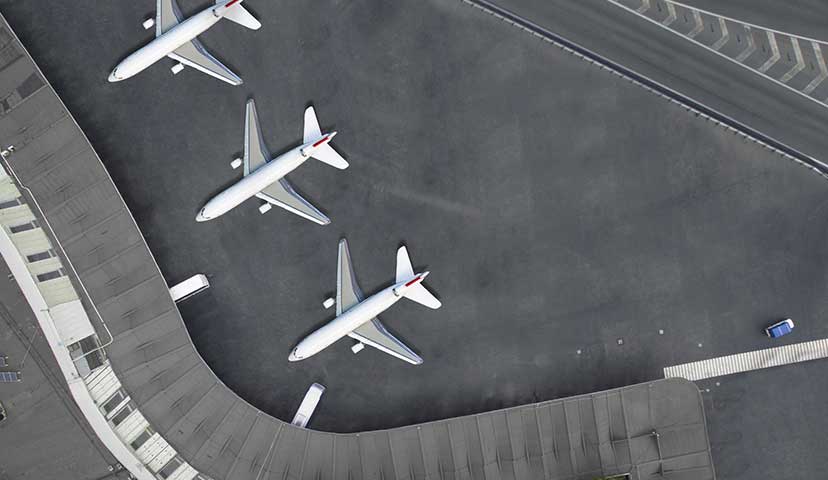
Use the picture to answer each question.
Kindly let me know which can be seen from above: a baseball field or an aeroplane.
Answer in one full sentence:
Visible in the photo is an aeroplane.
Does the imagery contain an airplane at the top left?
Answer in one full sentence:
Yes, an airplane can be seen at the top left.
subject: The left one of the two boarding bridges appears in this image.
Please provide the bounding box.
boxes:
[169,275,211,304]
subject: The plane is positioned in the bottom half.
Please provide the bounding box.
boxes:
[289,238,441,365]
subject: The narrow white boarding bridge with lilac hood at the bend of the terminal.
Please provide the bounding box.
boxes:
[292,383,327,428]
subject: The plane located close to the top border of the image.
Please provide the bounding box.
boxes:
[108,0,260,86]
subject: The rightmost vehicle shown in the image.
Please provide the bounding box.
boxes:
[766,317,796,339]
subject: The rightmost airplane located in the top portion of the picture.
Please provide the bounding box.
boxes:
[196,98,349,225]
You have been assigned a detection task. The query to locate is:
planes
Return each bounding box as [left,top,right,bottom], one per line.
[196,98,349,225]
[108,0,260,86]
[289,238,441,365]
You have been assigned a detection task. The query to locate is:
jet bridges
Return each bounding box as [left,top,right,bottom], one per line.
[292,383,327,428]
[169,275,211,304]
